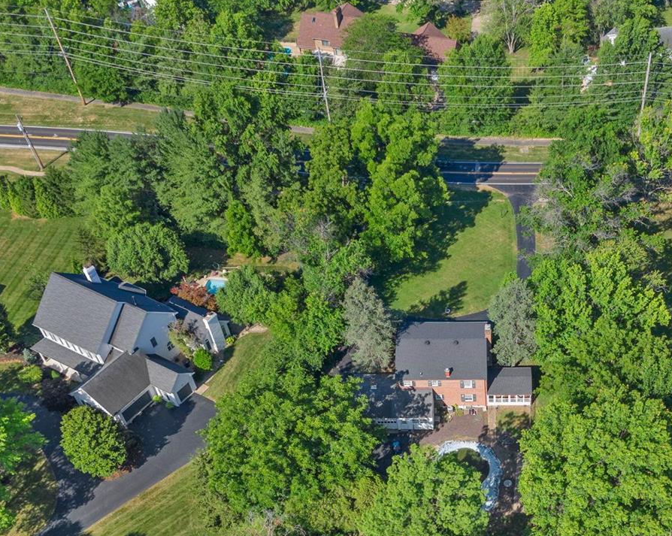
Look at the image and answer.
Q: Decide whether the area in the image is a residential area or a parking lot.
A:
residential area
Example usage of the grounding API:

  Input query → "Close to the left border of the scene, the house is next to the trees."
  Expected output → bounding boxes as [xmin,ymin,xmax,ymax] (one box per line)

[27,261,235,426]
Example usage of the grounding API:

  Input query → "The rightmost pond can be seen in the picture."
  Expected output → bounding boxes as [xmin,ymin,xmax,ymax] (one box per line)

[442,437,502,512]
